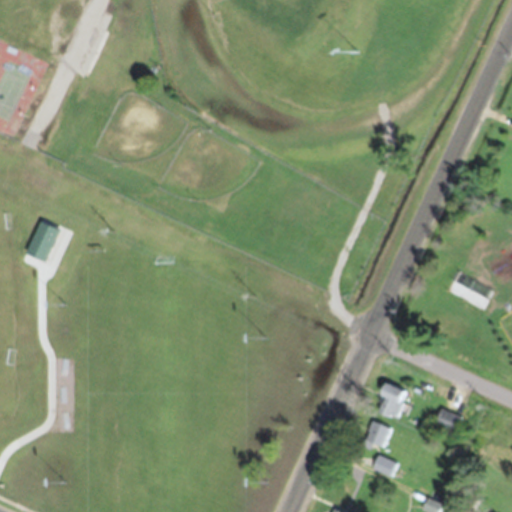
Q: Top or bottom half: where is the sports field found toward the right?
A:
top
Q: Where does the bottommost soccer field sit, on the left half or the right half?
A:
left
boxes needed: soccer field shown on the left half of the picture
[88,264,248,512]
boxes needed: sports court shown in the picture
[0,38,48,136]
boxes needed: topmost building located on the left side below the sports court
[30,222,60,262]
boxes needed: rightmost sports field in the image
[230,0,464,102]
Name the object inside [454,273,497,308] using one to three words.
shed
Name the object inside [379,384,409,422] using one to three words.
house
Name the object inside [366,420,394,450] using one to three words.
house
